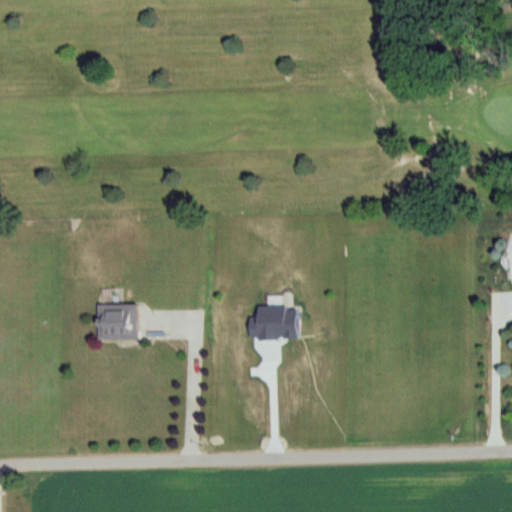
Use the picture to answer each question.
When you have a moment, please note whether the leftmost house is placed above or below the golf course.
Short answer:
below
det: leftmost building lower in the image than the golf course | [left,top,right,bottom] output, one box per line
[92,304,138,340]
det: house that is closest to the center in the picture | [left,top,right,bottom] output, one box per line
[247,295,300,340]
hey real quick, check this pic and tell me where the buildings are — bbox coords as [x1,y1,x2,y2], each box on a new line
[92,304,138,340]
[501,234,512,285]
[247,295,300,340]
